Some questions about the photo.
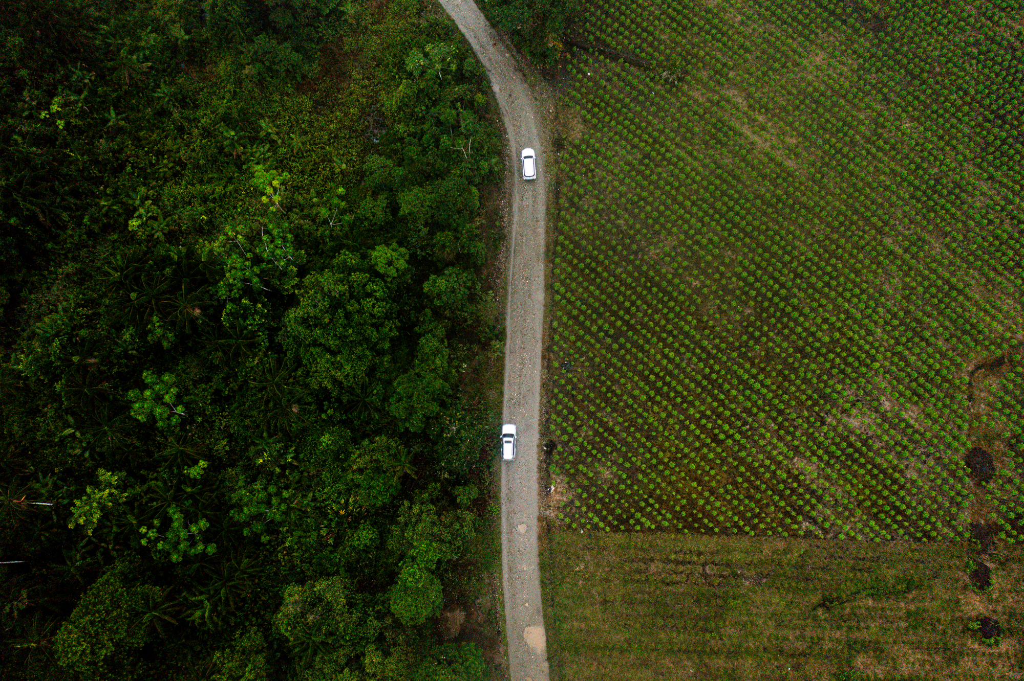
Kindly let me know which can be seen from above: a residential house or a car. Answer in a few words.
car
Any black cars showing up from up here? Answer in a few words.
No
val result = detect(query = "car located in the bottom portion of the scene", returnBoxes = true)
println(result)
[501,424,517,461]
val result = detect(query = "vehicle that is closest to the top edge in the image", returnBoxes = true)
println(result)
[521,148,537,181]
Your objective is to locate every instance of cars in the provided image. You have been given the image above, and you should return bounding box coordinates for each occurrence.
[501,424,517,461]
[521,148,537,181]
